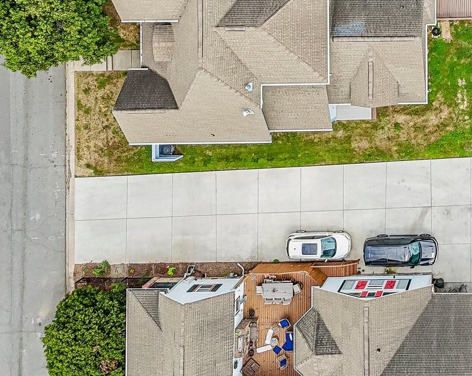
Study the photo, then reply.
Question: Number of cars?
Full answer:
There are 2 cars in the image.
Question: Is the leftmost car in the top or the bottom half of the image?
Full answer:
Seen from above, the leftmost car lies in the bottom half of the view.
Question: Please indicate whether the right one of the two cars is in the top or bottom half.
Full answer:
The right one of the two cars is in the bottom half of the image.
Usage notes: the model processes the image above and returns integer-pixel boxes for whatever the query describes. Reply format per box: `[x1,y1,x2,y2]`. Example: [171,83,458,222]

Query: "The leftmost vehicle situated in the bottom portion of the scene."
[284,231,348,264]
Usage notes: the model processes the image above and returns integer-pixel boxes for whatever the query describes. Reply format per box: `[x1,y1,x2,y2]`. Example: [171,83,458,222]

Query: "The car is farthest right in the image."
[363,236,436,273]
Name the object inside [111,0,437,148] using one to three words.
house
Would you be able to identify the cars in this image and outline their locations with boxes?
[363,236,436,273]
[284,231,348,264]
